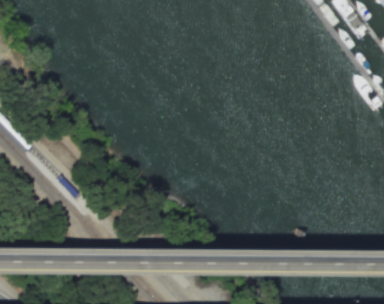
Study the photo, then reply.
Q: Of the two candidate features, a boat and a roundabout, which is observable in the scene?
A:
boat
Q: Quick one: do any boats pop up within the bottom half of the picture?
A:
No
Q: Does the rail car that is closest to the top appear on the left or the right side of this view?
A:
left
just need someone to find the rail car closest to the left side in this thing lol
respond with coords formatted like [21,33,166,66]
[0,114,33,151]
